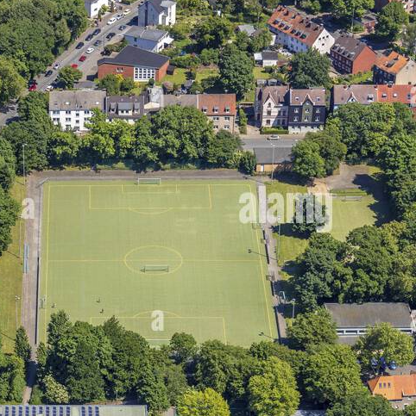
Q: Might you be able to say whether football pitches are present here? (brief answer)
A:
Yes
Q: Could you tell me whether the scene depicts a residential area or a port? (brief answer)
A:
residential area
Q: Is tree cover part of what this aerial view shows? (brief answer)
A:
Yes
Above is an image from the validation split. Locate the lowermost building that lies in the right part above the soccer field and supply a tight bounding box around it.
[252,145,293,171]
